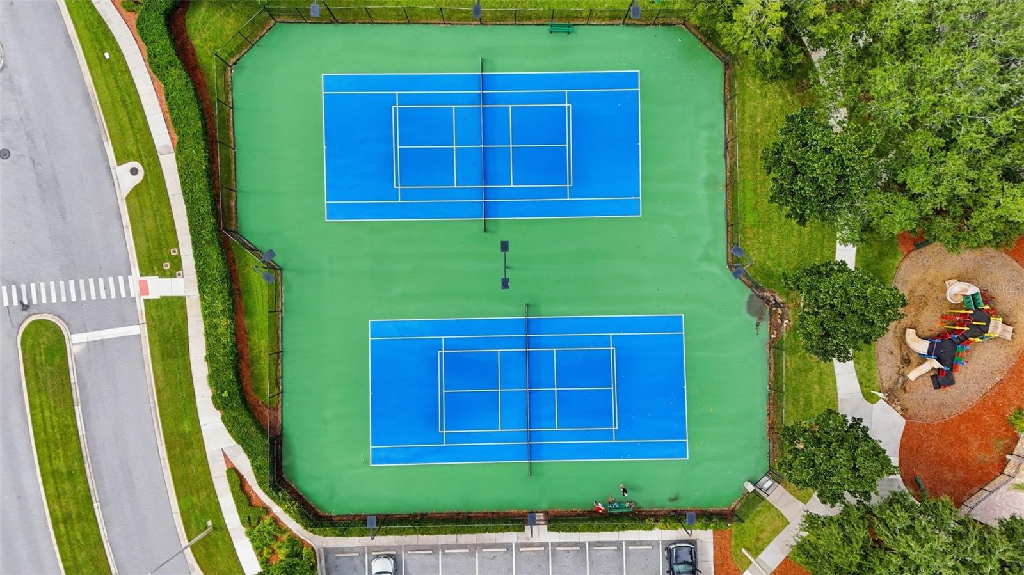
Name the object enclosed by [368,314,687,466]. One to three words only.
tennis court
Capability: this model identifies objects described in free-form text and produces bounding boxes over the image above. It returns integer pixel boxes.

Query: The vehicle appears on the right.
[666,543,699,575]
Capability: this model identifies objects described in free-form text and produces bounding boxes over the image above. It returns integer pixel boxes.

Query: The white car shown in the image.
[370,555,396,575]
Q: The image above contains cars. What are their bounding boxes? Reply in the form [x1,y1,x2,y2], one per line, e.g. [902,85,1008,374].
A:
[666,543,699,575]
[370,555,396,575]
